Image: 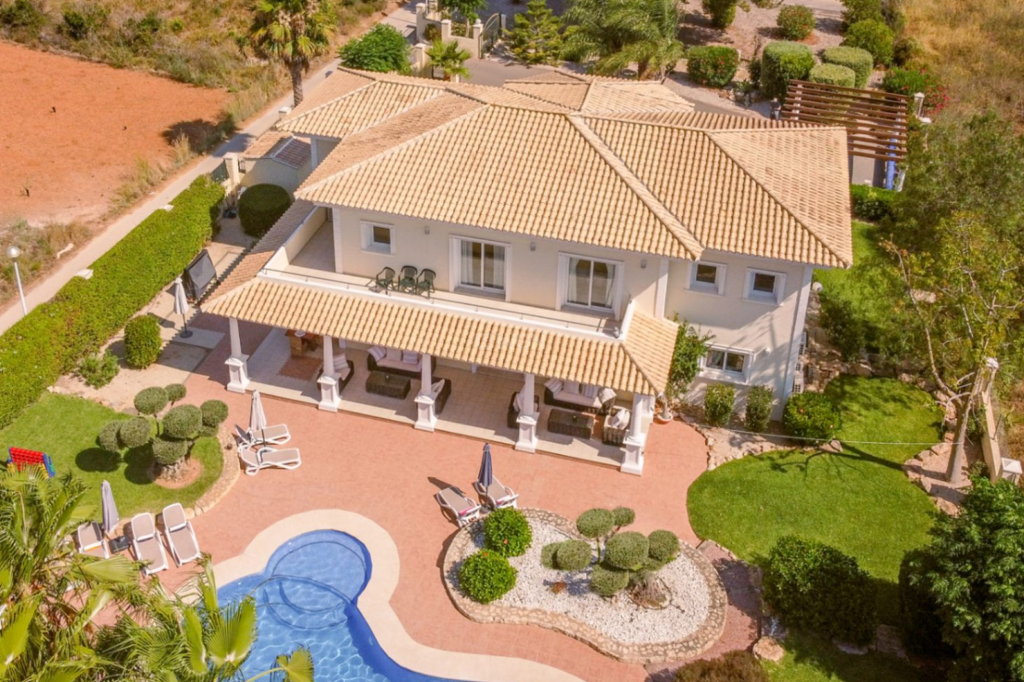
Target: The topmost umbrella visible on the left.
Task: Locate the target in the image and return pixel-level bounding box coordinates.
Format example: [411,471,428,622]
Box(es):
[173,277,193,339]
